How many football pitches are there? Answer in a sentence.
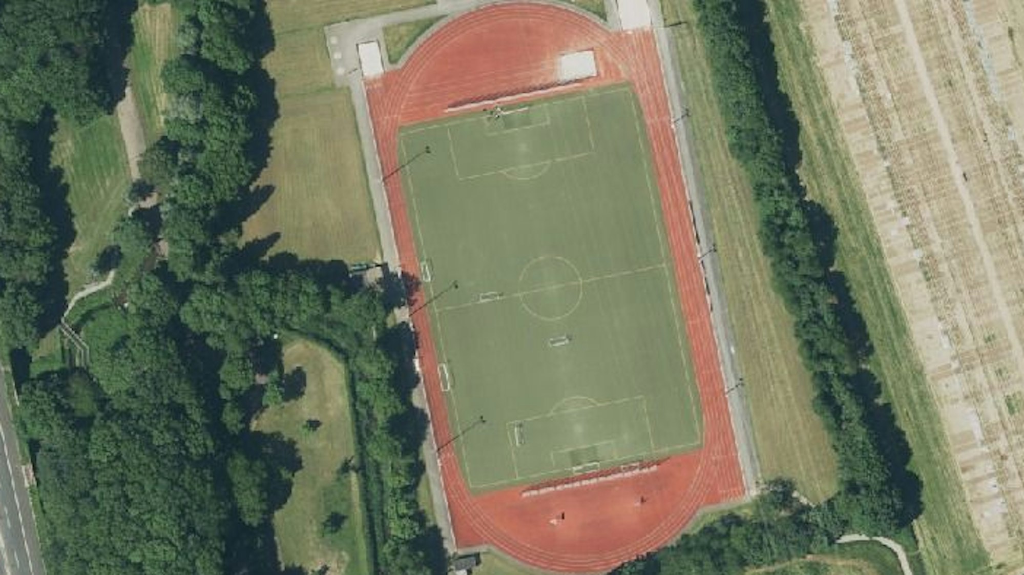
I count 1 football pitch.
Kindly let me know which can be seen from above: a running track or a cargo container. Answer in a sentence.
Looking from above, you can make out a running track.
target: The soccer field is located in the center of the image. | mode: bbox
[396,79,705,496]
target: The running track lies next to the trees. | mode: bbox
[360,2,749,573]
